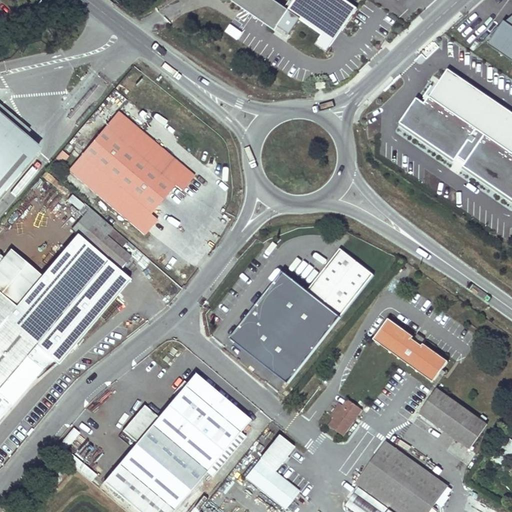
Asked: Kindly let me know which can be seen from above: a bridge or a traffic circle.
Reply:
traffic circle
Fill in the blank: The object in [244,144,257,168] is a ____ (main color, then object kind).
white vehicle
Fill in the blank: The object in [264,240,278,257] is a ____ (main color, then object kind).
white vehicle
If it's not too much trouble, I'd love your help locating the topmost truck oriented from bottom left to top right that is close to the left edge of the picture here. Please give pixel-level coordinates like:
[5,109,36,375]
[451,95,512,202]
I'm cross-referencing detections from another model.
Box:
[10,162,40,197]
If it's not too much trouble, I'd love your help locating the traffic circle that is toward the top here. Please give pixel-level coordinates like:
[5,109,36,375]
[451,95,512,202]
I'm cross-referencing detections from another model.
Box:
[243,102,355,212]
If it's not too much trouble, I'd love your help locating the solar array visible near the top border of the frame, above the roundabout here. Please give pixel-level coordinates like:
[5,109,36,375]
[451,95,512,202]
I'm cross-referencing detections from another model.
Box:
[292,0,354,37]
